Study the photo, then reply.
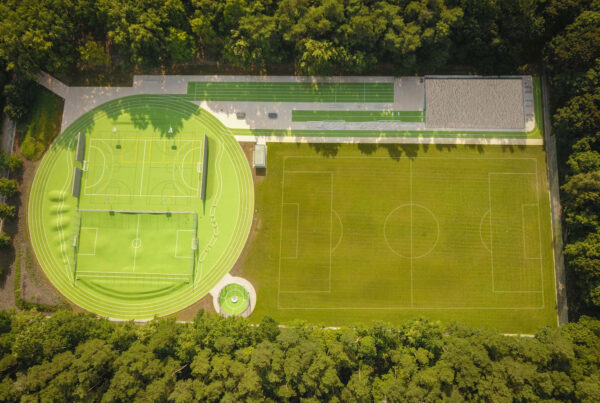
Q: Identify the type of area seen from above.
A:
sports ground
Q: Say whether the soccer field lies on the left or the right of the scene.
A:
right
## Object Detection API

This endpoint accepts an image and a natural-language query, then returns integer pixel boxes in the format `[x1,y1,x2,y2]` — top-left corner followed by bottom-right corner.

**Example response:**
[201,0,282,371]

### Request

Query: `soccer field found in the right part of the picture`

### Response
[277,152,547,313]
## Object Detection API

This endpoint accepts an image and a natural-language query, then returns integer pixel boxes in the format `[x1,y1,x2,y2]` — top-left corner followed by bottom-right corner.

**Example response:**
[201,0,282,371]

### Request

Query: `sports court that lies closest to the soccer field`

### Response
[220,284,250,313]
